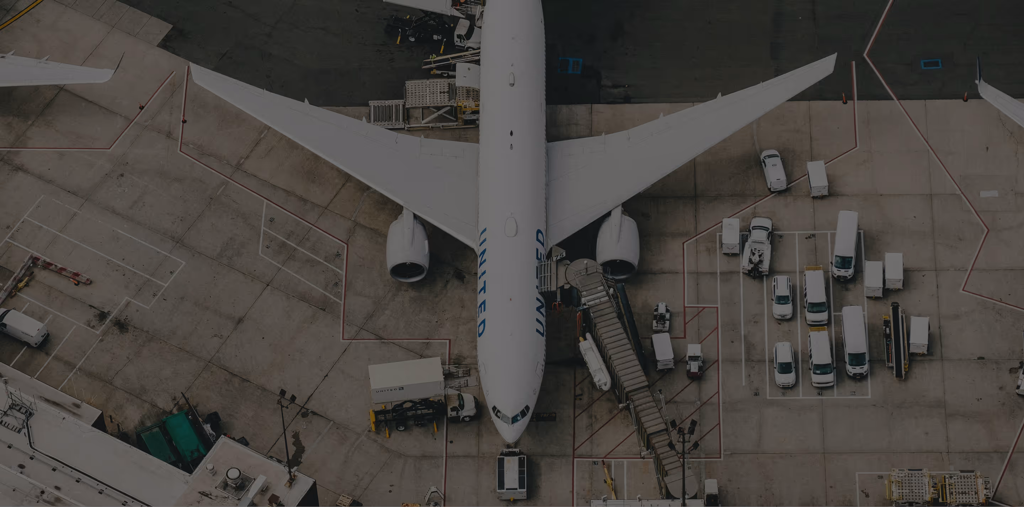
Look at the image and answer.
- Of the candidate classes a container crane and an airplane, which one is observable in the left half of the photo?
airplane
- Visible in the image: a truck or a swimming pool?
truck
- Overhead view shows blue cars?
No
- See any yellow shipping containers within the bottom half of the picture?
No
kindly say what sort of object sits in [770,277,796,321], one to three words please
car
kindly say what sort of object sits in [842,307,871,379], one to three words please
van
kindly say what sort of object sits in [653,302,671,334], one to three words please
work vehicle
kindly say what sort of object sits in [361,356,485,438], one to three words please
truck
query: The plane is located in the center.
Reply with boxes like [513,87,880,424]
[190,0,837,445]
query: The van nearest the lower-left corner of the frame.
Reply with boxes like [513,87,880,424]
[0,310,46,351]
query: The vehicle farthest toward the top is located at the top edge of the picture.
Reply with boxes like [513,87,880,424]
[375,0,483,49]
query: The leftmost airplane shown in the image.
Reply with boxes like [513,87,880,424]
[0,49,125,86]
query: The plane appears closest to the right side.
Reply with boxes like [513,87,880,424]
[975,56,1024,126]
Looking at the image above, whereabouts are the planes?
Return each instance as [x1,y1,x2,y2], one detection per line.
[190,0,837,445]
[0,49,125,86]
[975,56,1024,126]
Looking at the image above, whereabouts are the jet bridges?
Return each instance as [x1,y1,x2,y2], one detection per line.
[540,245,699,499]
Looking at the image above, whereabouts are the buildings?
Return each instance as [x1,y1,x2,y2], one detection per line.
[590,498,705,507]
[0,361,317,507]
